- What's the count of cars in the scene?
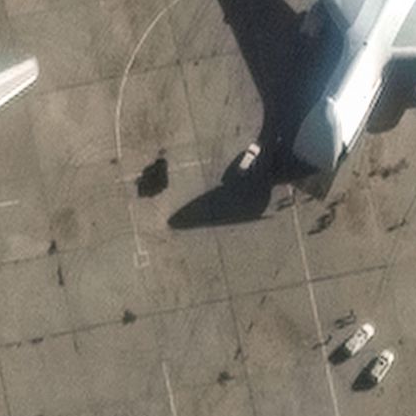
3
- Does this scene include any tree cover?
No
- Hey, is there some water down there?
No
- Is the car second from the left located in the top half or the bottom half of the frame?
bottom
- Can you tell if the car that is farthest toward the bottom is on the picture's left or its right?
right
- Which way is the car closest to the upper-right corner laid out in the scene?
diagonally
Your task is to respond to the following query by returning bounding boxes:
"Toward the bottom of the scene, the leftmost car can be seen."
[341,321,375,355]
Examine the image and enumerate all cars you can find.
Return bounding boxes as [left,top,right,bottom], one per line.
[367,349,396,383]
[341,321,375,355]
[237,142,261,169]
